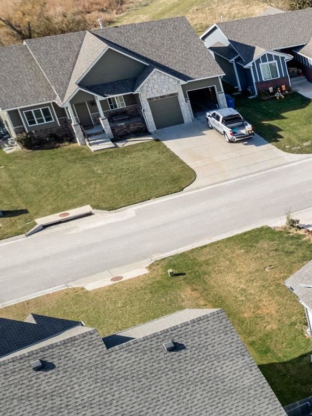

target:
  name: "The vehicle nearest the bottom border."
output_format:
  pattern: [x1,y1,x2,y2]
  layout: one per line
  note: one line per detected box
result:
[205,110,250,138]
